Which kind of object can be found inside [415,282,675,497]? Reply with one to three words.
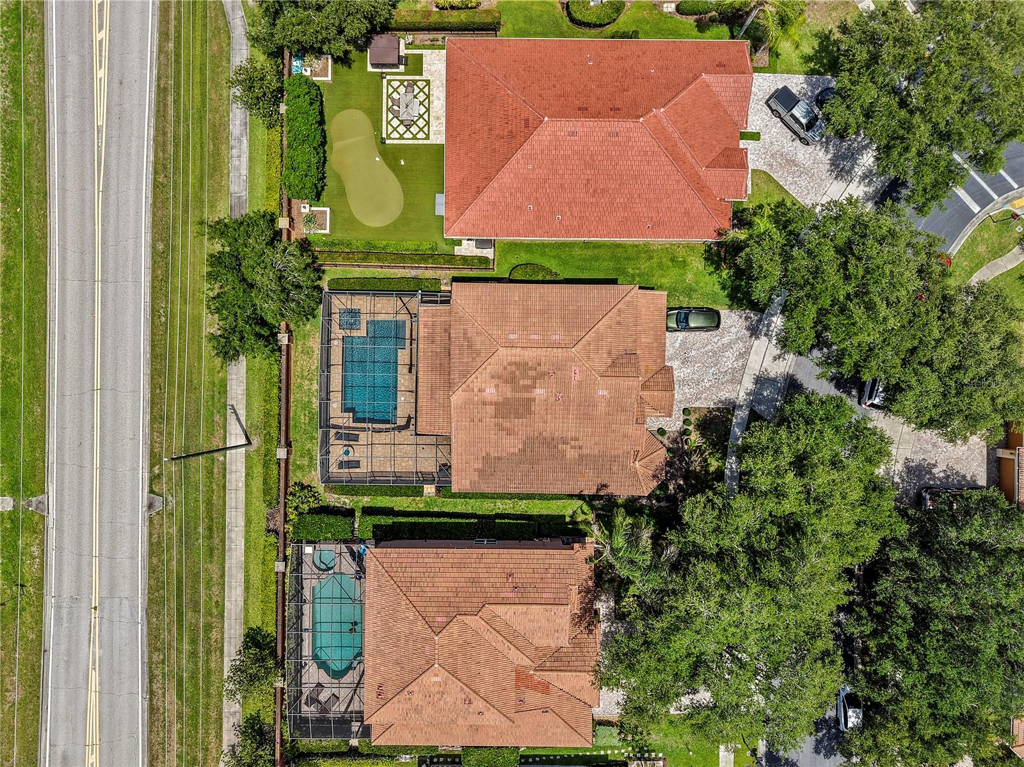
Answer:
house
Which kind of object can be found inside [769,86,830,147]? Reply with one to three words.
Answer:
truck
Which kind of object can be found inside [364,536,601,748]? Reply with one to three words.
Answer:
house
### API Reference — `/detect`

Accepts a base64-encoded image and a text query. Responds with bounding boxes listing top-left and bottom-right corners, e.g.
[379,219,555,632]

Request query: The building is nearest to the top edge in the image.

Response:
[444,37,752,243]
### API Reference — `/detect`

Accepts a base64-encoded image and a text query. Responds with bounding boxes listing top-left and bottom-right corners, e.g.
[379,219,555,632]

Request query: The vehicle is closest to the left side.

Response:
[666,305,723,334]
